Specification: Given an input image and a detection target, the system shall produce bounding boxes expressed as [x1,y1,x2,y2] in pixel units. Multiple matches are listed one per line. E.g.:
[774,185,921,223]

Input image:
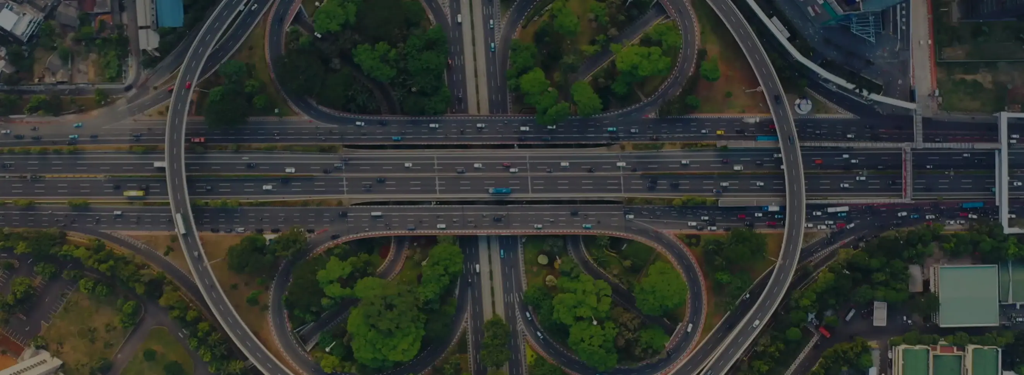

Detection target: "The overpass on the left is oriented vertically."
[163,0,294,375]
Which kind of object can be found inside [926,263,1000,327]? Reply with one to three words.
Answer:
building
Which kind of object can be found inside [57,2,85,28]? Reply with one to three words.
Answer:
house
